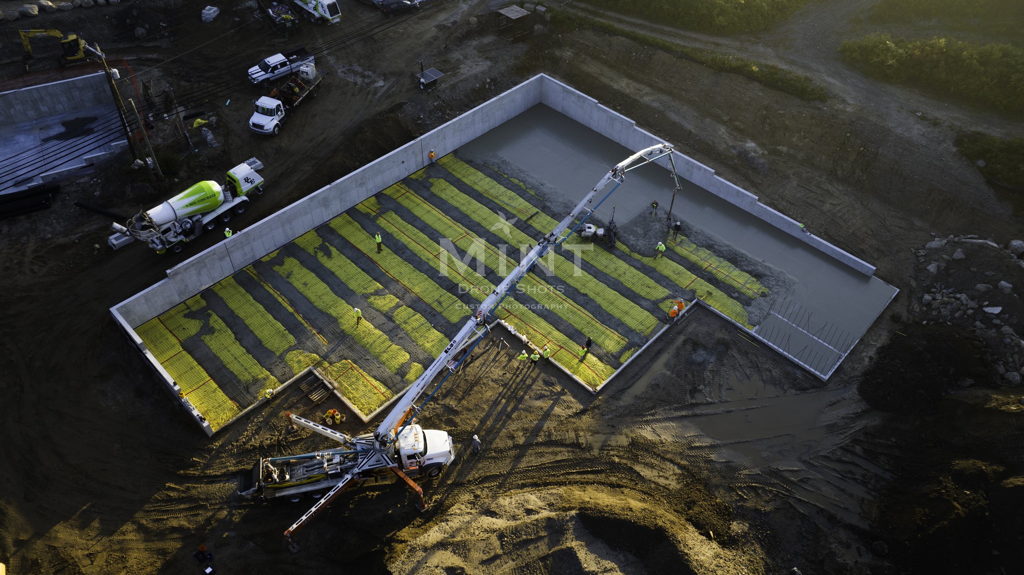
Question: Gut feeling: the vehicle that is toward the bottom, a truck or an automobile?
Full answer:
It turns out the vehicle that is toward the bottom is a truck.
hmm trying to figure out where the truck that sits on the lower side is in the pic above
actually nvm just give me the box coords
[238,140,679,558]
